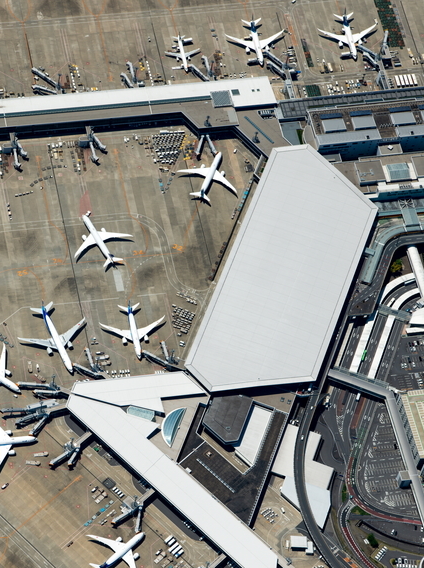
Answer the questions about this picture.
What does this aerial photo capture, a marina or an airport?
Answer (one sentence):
It's an airport.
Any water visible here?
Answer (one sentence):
No, there is no water in the image.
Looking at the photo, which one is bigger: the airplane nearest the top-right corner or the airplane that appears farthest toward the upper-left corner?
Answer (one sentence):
The airplane nearest the top-right corner takes up more space than the airplane that appears farthest toward the upper-left corner.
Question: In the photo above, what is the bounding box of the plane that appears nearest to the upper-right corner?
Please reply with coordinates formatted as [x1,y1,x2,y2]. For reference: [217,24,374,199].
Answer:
[319,10,377,59]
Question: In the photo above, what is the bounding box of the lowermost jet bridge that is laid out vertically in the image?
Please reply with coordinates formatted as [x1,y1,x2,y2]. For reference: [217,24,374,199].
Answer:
[130,505,144,532]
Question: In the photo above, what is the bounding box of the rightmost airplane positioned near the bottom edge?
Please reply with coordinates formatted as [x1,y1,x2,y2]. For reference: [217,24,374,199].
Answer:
[87,533,146,568]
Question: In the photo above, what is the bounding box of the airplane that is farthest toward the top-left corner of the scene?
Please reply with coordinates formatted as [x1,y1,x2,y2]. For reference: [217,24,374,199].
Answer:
[166,38,200,70]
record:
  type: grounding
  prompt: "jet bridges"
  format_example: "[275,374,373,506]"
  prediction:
[188,64,210,81]
[262,50,287,70]
[50,443,80,467]
[267,62,287,79]
[127,62,138,81]
[16,410,48,426]
[1,400,62,414]
[358,45,382,63]
[64,446,81,466]
[362,53,380,70]
[192,132,205,155]
[32,84,60,95]
[205,132,219,155]
[111,505,141,524]
[18,381,59,389]
[142,349,174,371]
[130,505,144,532]
[73,363,98,379]
[32,68,61,90]
[380,31,390,55]
[84,347,96,372]
[9,153,20,167]
[92,132,106,152]
[86,141,98,161]
[14,137,27,156]
[160,341,171,363]
[121,73,136,88]
[27,413,50,436]
[34,388,63,397]
[202,58,212,77]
